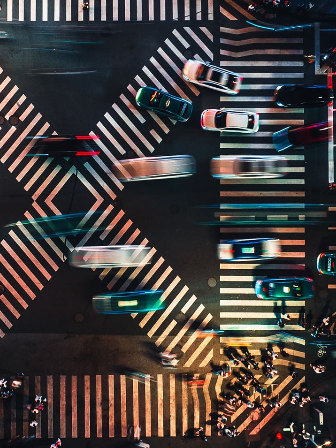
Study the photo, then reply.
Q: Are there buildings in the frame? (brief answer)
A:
No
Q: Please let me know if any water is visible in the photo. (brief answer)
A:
No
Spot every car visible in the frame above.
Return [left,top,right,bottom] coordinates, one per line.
[135,87,193,121]
[126,154,186,183]
[102,288,159,315]
[272,119,336,152]
[218,153,279,181]
[39,131,93,159]
[255,275,312,303]
[182,59,243,93]
[200,106,259,134]
[317,253,336,275]
[219,235,277,263]
[273,81,335,110]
